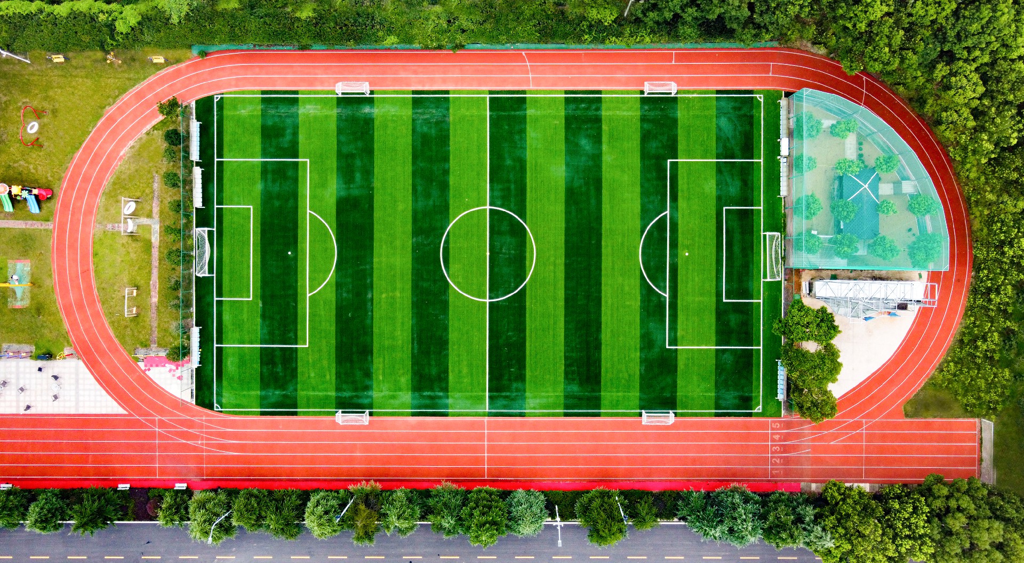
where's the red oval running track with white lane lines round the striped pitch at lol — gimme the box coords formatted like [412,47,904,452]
[0,48,980,484]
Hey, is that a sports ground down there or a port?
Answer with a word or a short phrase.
sports ground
